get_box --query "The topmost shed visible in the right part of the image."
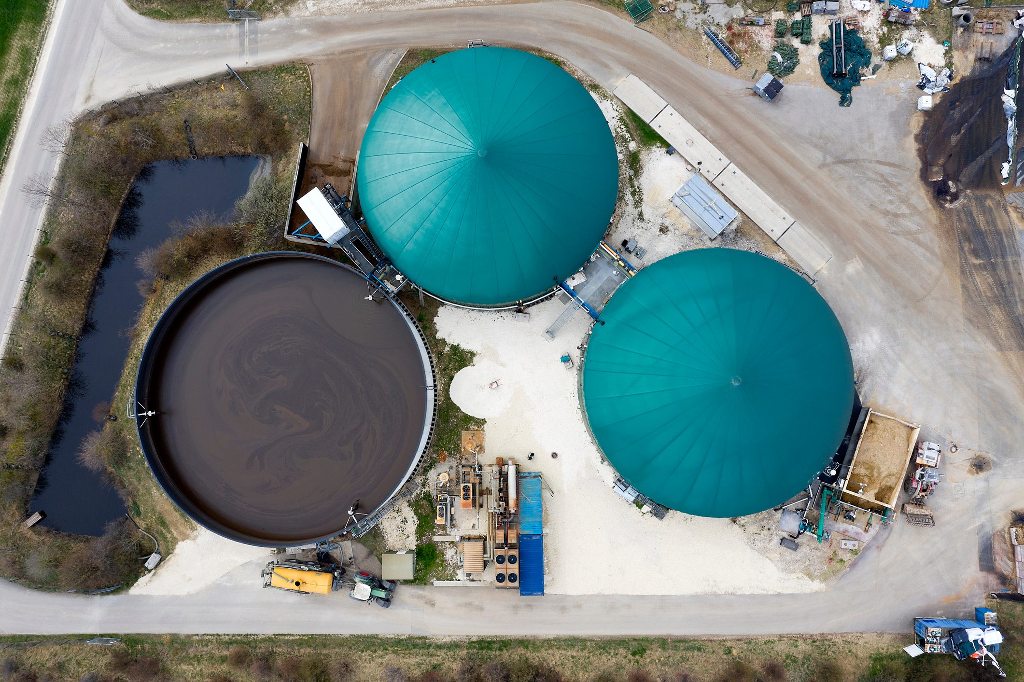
[671,173,738,237]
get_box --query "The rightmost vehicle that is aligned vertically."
[902,439,946,522]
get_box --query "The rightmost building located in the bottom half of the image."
[457,536,489,573]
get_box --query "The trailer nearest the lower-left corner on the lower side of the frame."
[260,556,355,596]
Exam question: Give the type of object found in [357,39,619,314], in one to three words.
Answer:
storage tank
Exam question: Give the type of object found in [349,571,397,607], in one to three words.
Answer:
work vehicle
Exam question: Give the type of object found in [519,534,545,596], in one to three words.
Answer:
shipping container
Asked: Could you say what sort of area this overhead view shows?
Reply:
industrial area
